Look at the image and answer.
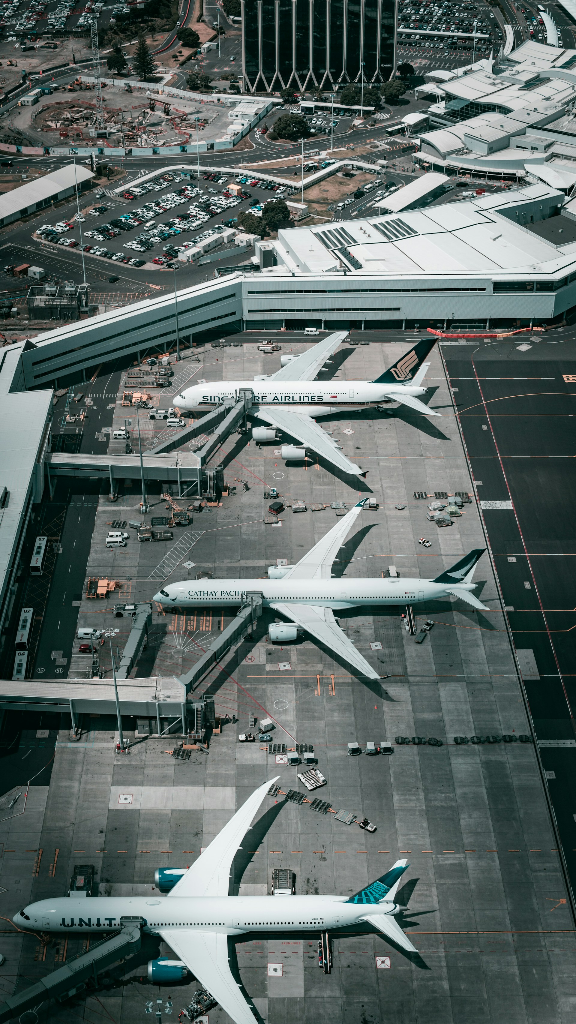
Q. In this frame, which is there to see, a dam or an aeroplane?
aeroplane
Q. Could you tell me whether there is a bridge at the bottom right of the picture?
No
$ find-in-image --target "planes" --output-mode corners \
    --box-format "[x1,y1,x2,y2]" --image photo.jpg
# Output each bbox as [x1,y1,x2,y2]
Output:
[153,496,493,675]
[170,326,444,479]
[13,775,423,1024]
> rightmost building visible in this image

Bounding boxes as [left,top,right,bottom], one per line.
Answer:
[410,40,576,202]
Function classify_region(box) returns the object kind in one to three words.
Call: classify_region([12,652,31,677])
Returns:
vehicle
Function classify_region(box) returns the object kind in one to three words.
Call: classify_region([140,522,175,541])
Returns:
work vehicle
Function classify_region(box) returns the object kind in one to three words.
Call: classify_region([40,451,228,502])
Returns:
bridge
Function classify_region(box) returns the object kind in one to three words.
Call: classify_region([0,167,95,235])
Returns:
building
